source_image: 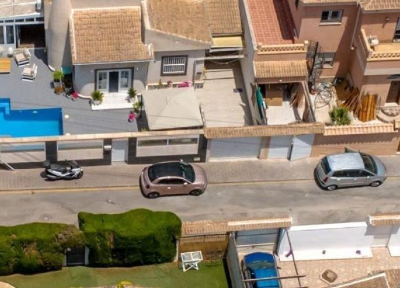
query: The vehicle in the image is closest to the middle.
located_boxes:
[139,156,210,199]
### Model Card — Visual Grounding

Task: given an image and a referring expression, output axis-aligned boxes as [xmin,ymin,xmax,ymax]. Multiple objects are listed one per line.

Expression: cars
[243,248,288,288]
[139,156,210,199]
[314,149,391,191]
